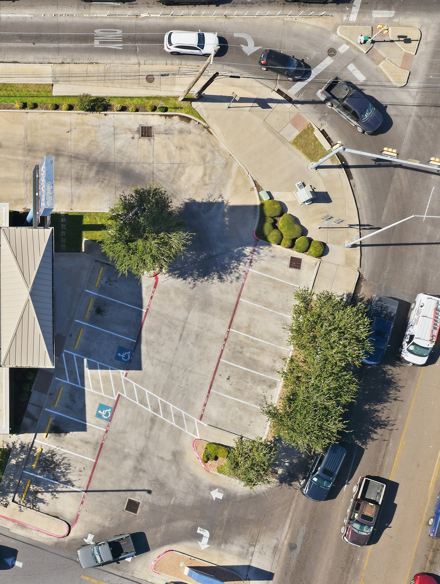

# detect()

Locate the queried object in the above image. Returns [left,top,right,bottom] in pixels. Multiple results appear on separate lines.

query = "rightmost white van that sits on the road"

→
[401,292,440,364]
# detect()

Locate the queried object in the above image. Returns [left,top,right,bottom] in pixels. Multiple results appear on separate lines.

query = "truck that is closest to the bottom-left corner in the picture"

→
[77,532,139,569]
